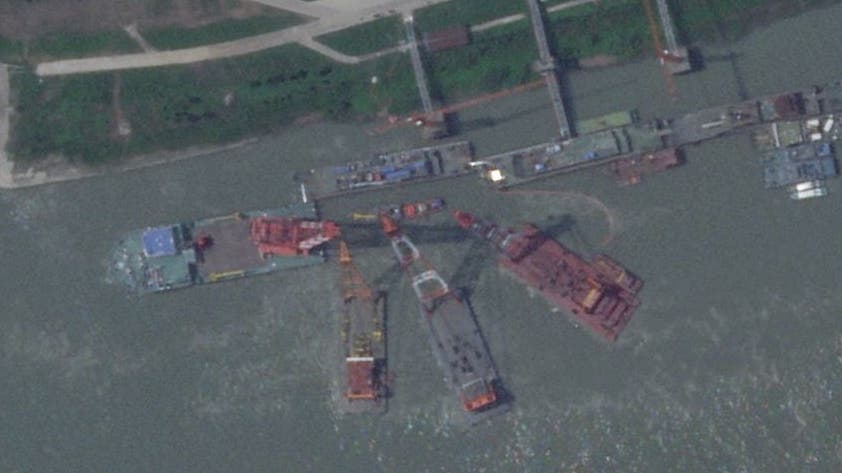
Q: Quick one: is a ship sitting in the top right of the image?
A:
Yes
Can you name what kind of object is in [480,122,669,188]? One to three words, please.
pier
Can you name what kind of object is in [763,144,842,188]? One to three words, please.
ship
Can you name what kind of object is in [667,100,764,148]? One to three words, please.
ship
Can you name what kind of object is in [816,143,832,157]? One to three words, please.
boat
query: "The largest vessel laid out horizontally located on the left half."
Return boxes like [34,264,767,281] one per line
[112,192,372,291]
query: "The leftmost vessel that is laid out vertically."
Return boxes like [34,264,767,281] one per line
[336,239,400,407]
